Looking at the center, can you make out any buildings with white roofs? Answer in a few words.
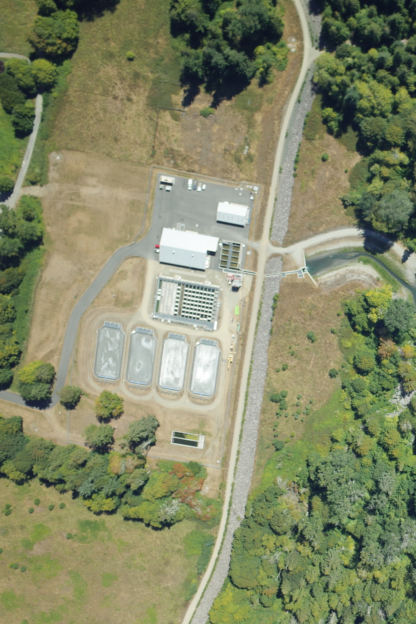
Yes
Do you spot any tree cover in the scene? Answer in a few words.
Yes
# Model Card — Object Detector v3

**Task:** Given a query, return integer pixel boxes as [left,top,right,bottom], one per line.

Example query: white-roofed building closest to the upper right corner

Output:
[216,202,247,226]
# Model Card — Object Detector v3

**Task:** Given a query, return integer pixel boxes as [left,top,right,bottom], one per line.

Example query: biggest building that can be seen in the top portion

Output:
[159,227,219,269]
